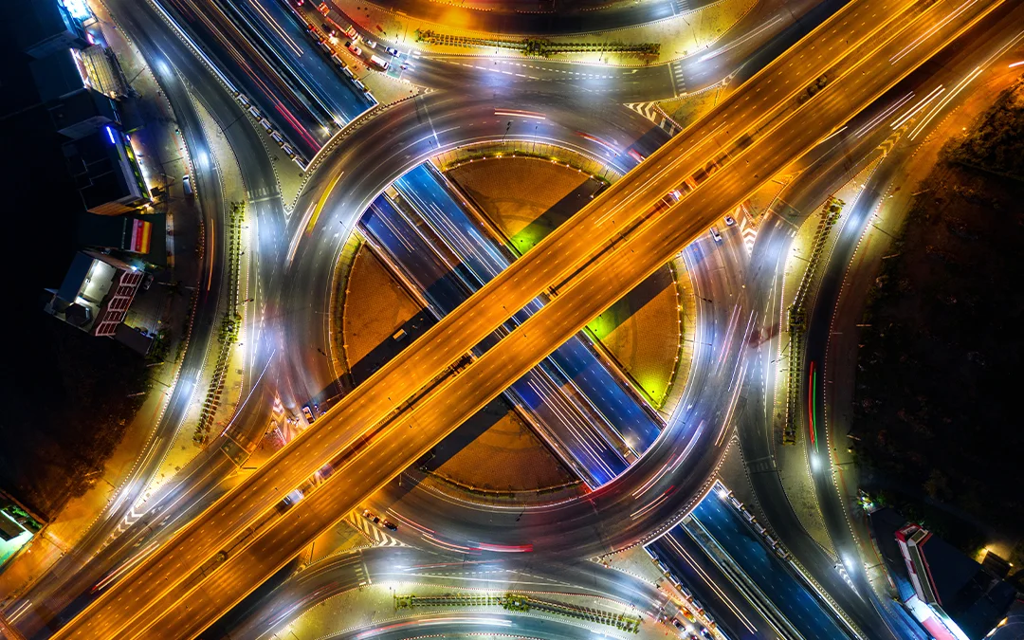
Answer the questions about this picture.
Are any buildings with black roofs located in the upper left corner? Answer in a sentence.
Yes, the scene does show a building with a black roof in the upper left corner.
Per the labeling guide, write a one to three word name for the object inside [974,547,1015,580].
shed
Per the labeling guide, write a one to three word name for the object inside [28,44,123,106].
building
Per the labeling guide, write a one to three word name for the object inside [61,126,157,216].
building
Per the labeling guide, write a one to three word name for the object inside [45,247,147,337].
house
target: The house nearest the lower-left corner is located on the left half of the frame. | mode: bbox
[0,502,35,547]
